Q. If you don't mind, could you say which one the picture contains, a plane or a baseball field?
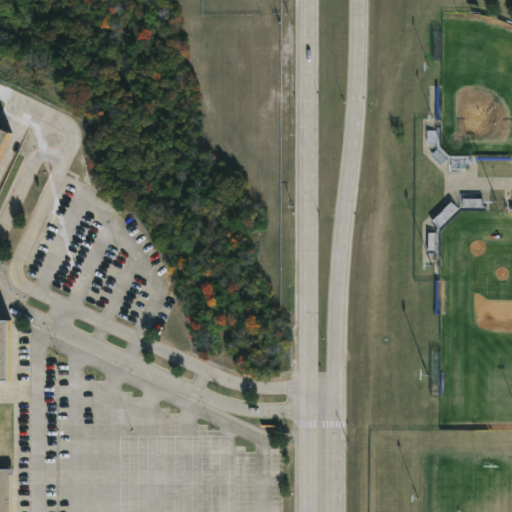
baseball field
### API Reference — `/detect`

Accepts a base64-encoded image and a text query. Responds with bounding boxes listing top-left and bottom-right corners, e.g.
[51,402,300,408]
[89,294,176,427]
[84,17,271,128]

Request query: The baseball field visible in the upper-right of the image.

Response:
[442,13,512,157]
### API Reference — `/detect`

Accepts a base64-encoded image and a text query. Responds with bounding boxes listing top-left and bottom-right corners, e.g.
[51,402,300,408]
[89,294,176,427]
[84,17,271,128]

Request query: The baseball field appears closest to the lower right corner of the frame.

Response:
[441,210,512,430]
